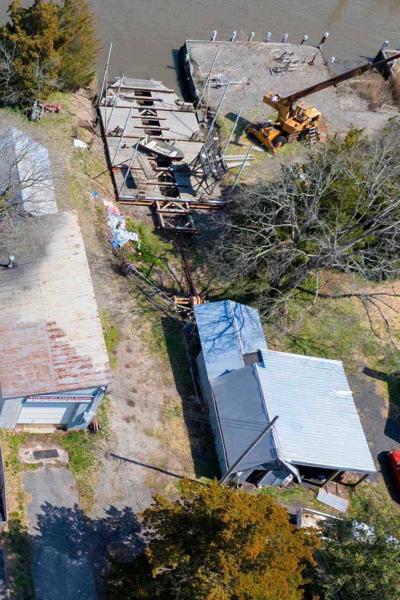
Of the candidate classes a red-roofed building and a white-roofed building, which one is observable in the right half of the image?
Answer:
white-roofed building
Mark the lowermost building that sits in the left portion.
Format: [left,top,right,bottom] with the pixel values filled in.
[0,211,115,434]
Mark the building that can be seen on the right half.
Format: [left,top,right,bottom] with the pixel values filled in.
[189,301,379,488]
